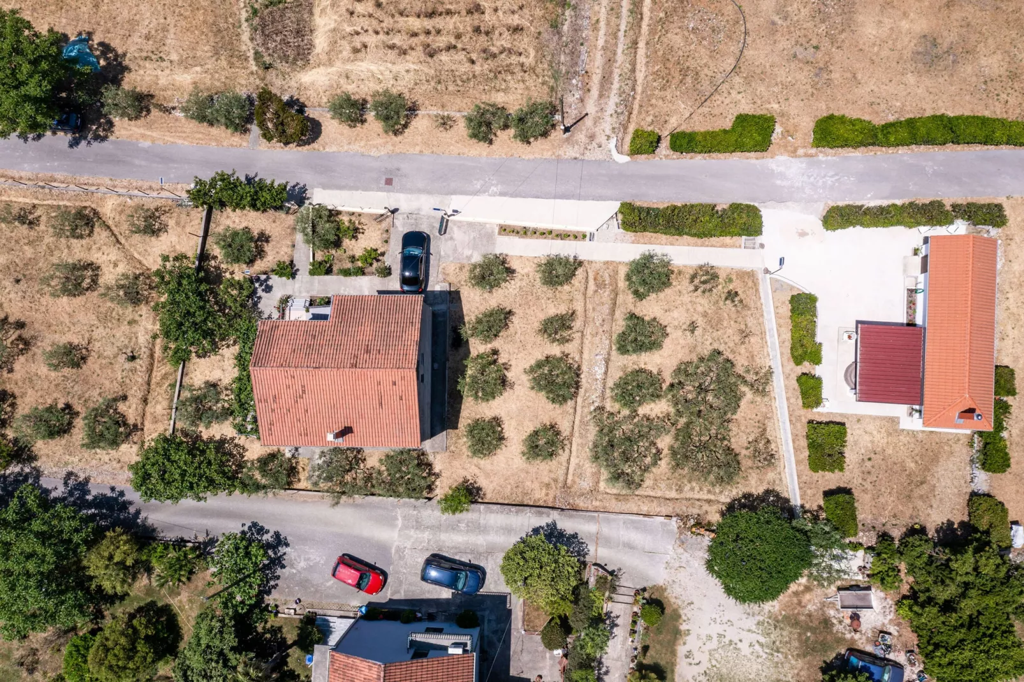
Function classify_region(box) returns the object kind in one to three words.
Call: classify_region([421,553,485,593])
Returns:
car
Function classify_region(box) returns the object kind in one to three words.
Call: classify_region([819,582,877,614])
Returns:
trailer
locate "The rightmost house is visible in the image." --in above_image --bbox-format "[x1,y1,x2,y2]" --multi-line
[898,233,998,432]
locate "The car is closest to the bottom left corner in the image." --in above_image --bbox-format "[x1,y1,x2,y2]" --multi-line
[331,554,386,592]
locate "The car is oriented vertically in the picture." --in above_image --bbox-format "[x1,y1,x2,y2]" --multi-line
[399,231,430,294]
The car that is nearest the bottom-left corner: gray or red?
red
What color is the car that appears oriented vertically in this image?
black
